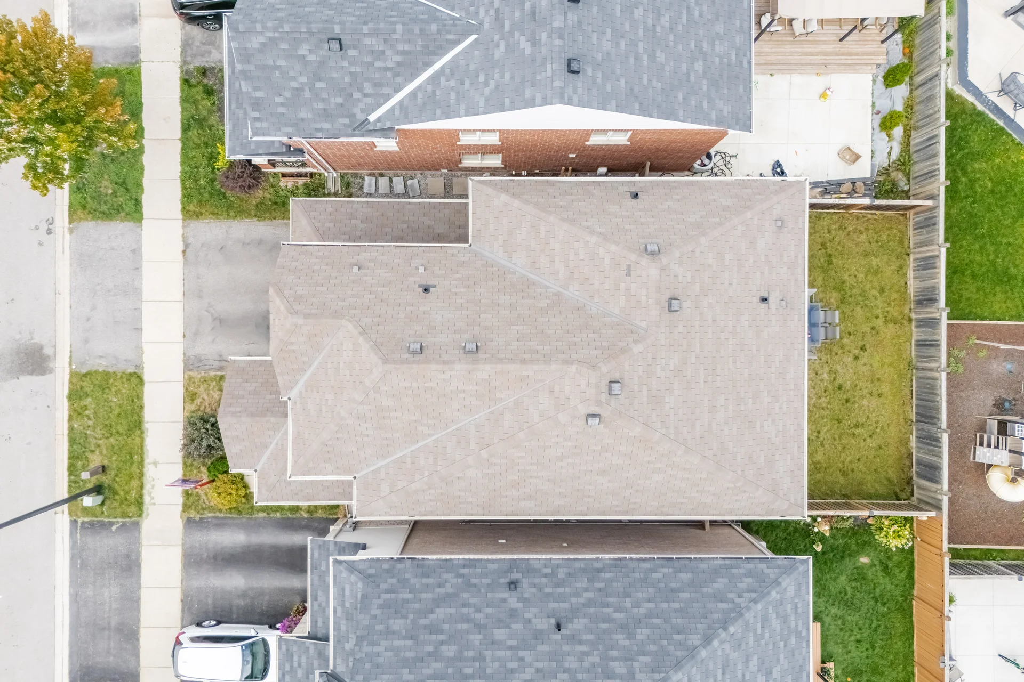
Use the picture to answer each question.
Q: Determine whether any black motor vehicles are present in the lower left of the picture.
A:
No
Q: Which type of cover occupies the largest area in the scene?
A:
buildings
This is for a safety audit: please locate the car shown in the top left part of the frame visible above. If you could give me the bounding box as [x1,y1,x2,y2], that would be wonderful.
[173,0,240,27]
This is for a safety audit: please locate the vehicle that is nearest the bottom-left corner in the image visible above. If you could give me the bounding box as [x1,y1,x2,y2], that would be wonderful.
[172,617,301,682]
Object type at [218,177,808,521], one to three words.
house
